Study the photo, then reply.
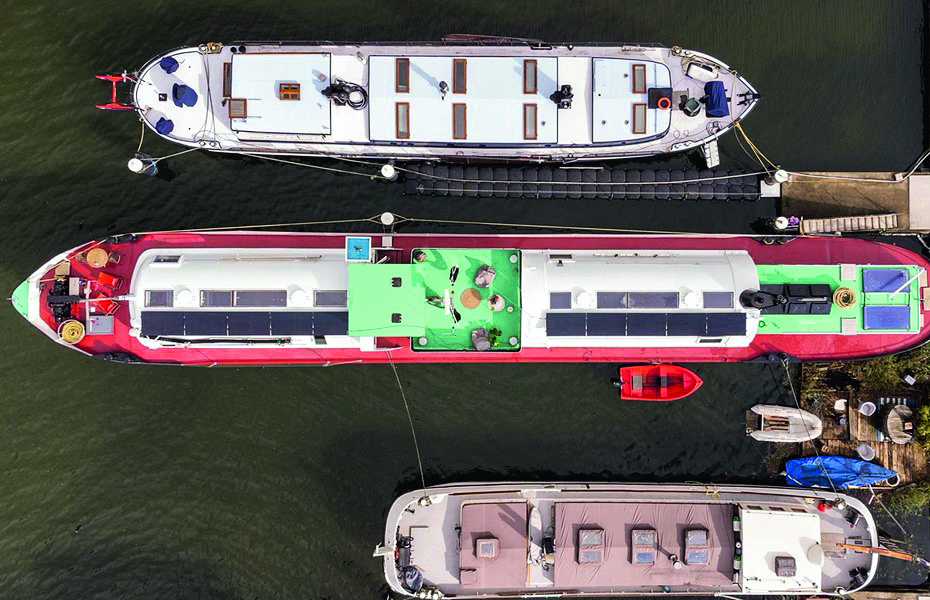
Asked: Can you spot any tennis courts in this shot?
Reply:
No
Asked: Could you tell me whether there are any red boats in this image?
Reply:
Yes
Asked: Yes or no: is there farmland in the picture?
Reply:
No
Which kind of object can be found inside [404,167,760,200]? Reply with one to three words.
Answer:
pier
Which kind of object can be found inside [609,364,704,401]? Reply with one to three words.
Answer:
boat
